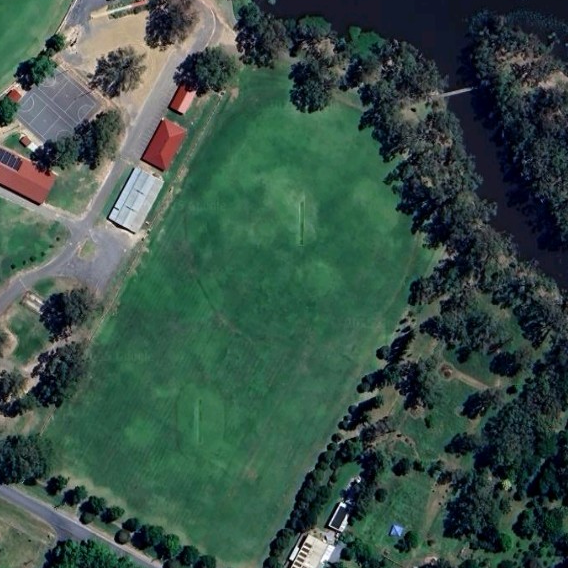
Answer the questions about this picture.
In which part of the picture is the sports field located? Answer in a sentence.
The sports field is in the center part of the image.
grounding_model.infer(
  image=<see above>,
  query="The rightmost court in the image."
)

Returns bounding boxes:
[40,69,94,124]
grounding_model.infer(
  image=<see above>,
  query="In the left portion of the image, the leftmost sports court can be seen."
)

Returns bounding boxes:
[18,93,61,140]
